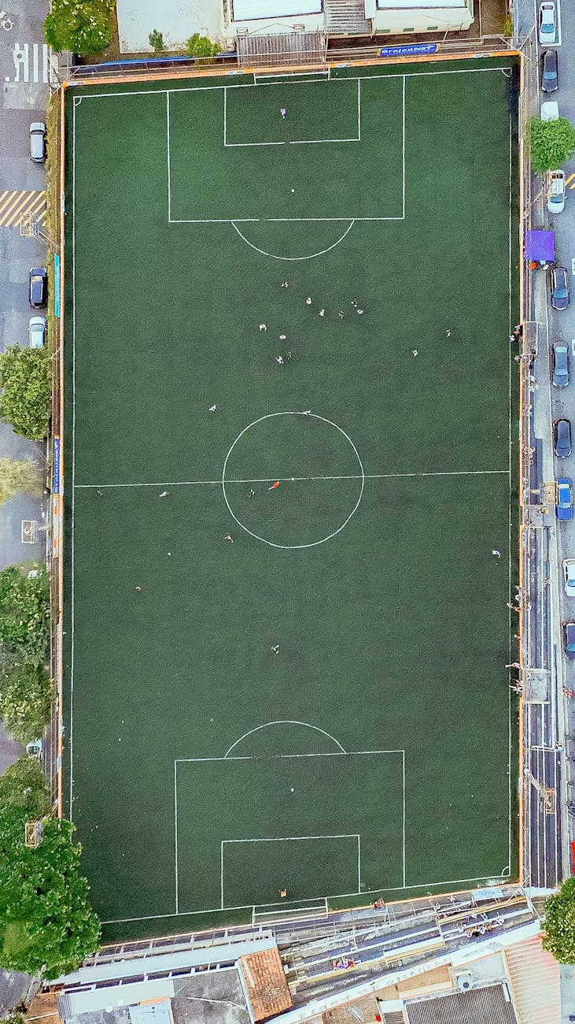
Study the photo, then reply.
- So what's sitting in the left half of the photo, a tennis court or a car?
car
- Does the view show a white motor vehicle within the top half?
Yes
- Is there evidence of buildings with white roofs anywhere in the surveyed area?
Yes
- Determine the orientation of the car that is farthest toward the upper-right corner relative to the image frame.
vertically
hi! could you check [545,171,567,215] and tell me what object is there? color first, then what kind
white car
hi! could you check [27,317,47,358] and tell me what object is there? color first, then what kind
white car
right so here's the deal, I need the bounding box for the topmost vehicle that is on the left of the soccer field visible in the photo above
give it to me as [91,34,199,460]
[28,124,47,166]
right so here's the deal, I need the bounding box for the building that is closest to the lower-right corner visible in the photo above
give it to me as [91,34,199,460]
[503,931,561,1024]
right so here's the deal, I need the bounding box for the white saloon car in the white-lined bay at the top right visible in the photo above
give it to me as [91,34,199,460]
[538,2,558,46]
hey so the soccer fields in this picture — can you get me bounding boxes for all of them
[60,57,521,948]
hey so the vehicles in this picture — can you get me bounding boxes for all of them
[552,419,573,459]
[24,733,44,769]
[27,268,47,310]
[568,838,575,875]
[27,317,47,358]
[561,558,575,597]
[550,342,571,388]
[545,171,567,215]
[539,50,560,94]
[554,478,575,521]
[562,620,575,660]
[538,2,558,46]
[549,267,571,311]
[540,101,561,130]
[28,124,47,166]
